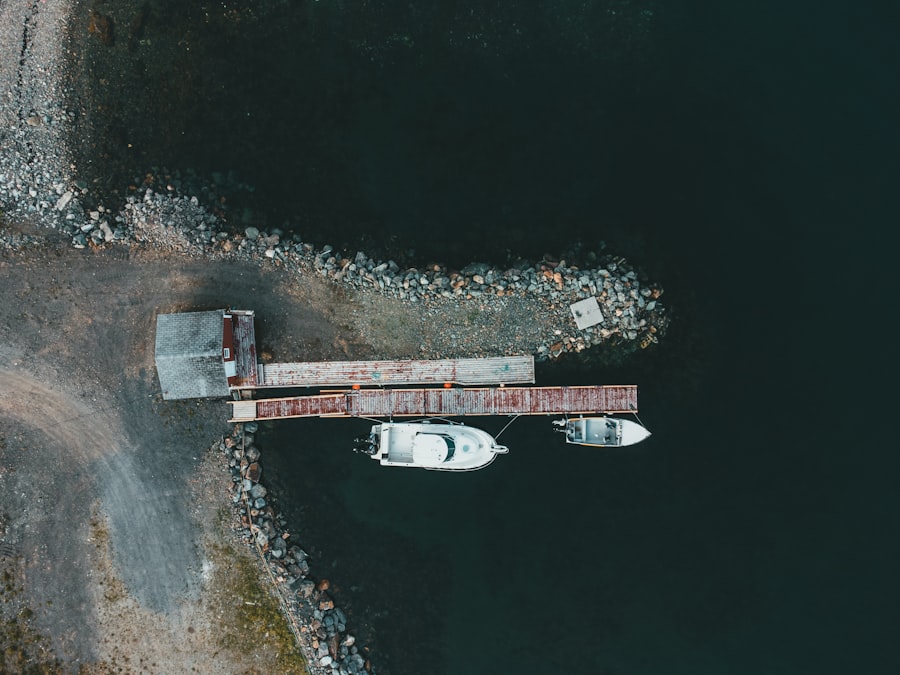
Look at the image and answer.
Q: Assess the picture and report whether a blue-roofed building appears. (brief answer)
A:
No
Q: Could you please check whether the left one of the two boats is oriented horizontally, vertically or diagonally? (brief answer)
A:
horizontally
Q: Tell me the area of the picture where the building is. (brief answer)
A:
left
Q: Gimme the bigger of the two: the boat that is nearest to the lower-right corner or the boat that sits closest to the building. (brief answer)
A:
the boat that sits closest to the building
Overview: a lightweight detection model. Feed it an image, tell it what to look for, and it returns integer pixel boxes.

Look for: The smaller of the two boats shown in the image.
[548,417,652,446]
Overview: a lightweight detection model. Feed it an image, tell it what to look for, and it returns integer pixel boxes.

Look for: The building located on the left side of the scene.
[154,309,242,400]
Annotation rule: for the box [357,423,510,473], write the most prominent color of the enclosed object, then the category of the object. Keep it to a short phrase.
white boat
